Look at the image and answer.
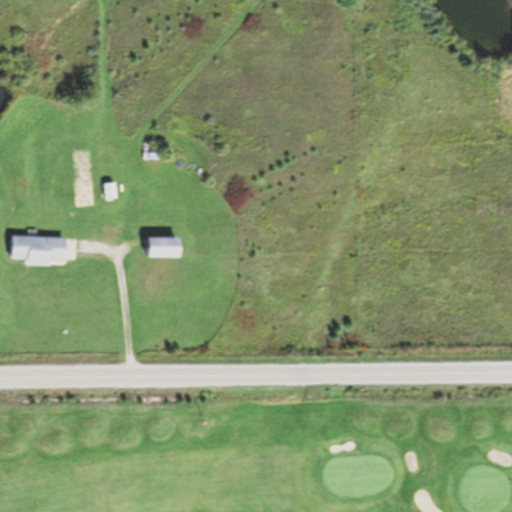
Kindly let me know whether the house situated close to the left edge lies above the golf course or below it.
above it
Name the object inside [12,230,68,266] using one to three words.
house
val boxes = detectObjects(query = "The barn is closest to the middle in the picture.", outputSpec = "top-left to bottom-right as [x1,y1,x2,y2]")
[149,237,183,258]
